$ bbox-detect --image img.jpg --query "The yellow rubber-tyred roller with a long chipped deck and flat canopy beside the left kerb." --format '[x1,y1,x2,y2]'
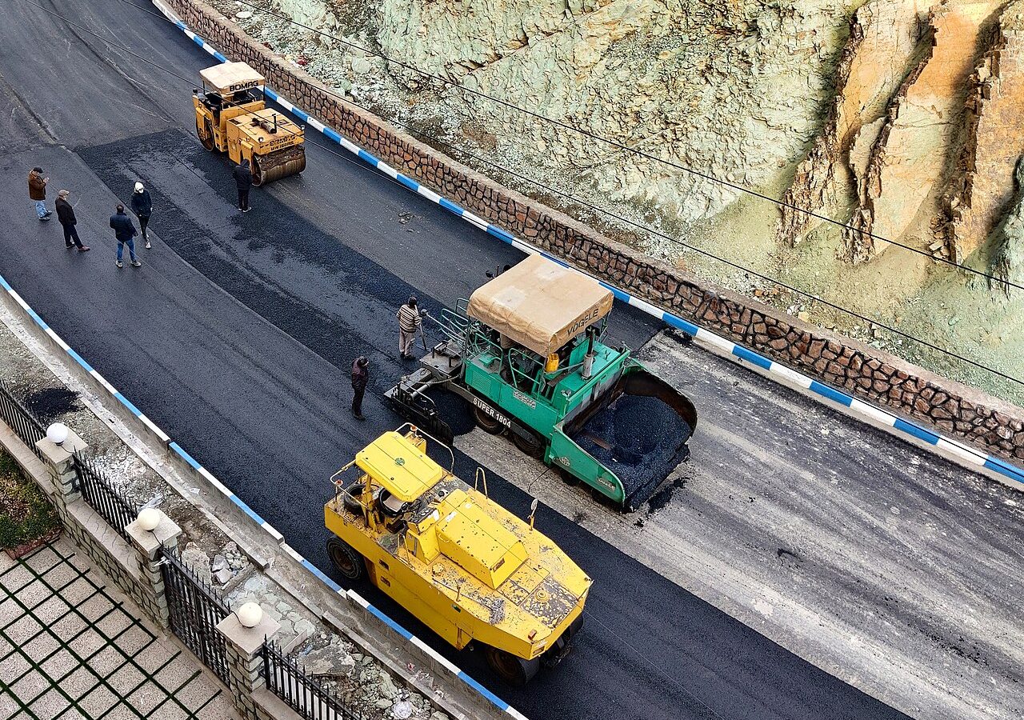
[323,421,596,687]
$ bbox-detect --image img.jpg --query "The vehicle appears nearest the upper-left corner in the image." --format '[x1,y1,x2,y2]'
[193,65,305,188]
